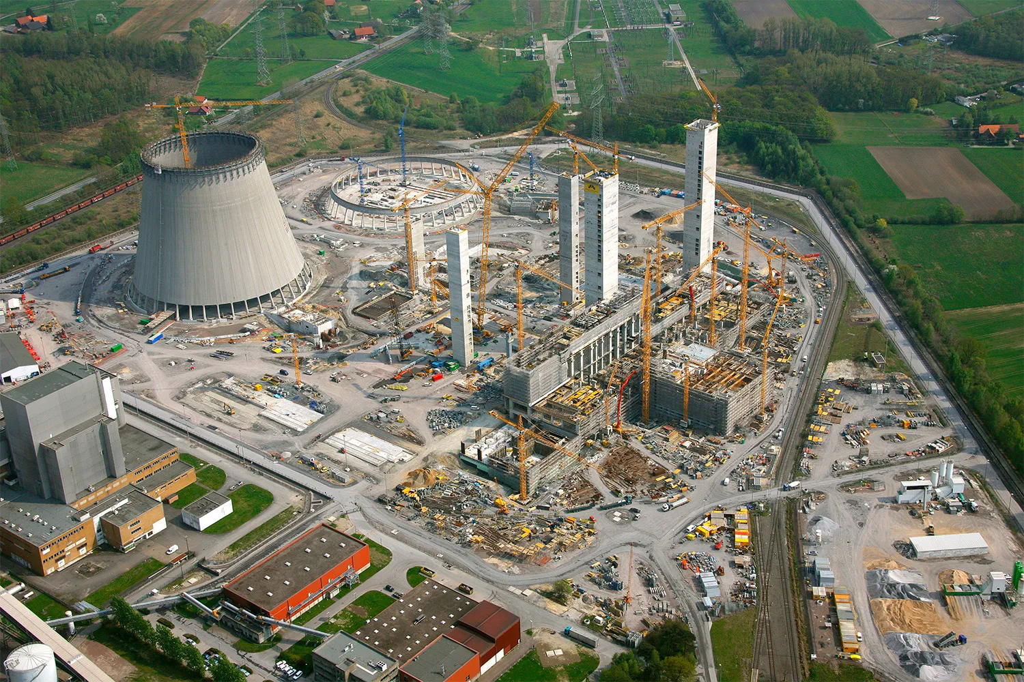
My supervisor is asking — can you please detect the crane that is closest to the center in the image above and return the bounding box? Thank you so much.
[507,249,588,346]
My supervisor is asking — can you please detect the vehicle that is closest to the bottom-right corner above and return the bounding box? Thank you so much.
[936,627,967,646]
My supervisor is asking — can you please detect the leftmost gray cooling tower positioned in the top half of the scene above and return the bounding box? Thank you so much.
[124,127,314,327]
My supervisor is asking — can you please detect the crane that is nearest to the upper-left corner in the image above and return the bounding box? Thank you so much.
[142,93,294,166]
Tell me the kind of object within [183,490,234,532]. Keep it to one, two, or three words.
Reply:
building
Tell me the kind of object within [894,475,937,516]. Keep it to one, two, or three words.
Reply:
building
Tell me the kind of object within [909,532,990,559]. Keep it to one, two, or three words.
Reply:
shed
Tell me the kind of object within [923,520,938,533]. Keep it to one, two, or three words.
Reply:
vehicle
